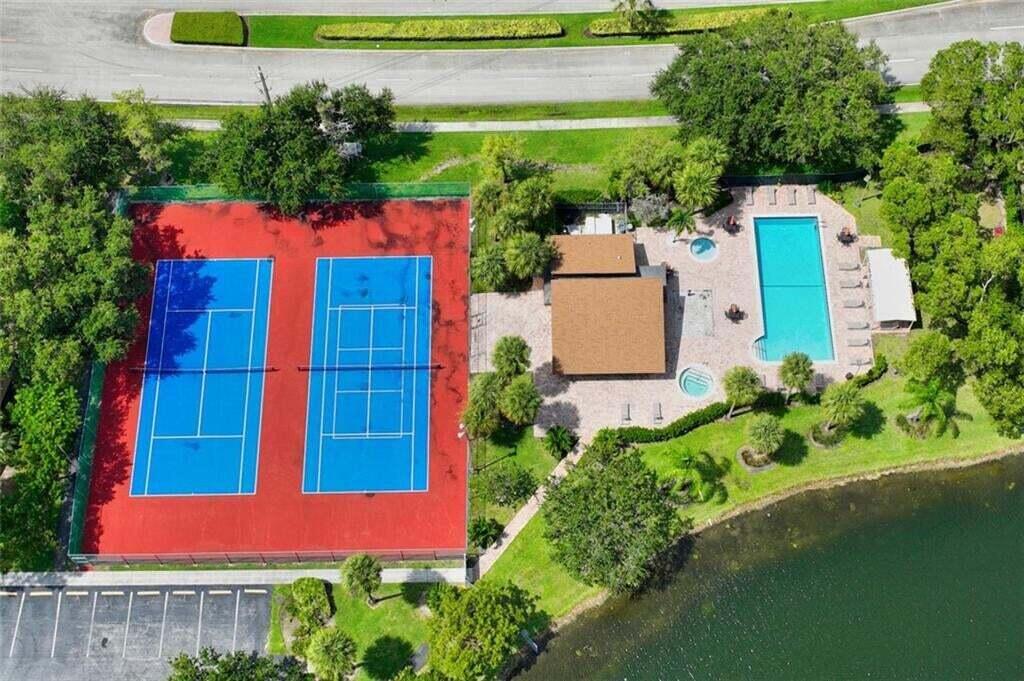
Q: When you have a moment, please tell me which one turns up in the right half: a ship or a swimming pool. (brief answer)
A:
swimming pool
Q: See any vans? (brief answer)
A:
No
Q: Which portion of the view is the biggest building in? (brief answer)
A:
center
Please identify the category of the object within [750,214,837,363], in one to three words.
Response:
swimming pool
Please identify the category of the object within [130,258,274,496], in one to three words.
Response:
tennis court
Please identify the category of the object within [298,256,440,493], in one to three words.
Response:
tennis court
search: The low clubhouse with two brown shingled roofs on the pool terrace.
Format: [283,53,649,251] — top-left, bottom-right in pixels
[541,234,666,380]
